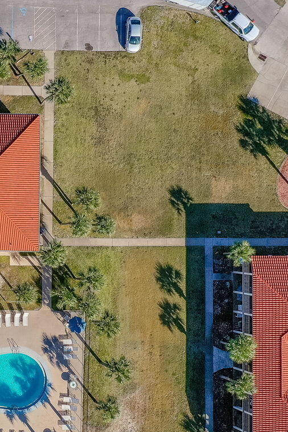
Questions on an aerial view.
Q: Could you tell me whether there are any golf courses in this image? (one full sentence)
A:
No, I can see no golf course in this picture.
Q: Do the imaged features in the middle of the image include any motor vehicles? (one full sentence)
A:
No, no motor vehicle can be made out in the middle of the image.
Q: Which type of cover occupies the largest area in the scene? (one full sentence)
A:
Most of the picture is covered by grass.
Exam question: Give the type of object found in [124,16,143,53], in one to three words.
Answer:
car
